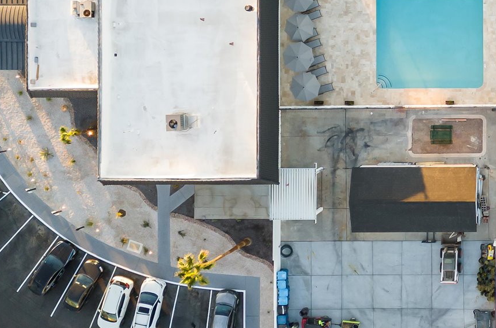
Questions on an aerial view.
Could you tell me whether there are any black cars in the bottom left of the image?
Yes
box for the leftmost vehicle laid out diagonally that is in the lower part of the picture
[27,239,78,297]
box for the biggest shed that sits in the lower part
[346,166,478,232]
